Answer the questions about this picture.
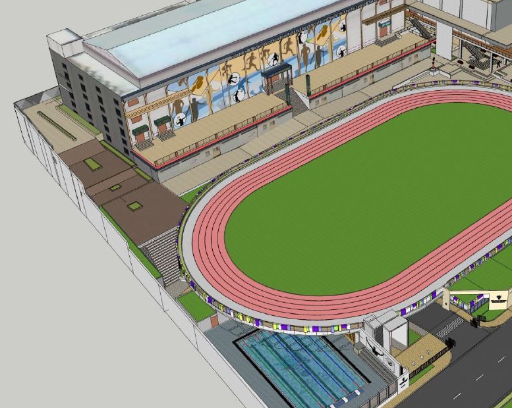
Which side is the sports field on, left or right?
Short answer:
right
